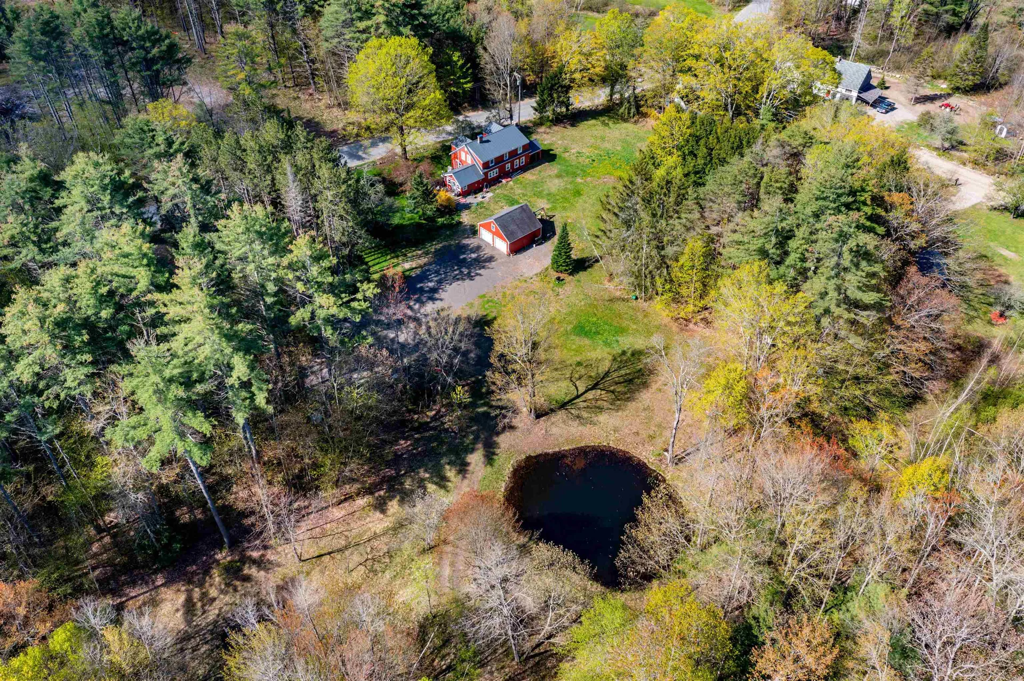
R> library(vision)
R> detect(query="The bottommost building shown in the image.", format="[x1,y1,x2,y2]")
[477,202,542,255]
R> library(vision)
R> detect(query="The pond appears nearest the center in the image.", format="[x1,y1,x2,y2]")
[501,446,681,593]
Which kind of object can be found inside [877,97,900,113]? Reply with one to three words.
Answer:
vehicle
